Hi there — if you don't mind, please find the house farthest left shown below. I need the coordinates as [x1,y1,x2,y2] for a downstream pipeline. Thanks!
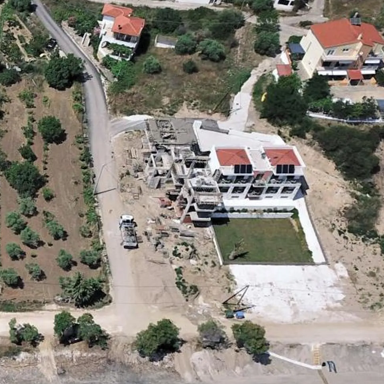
[100,6,144,68]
